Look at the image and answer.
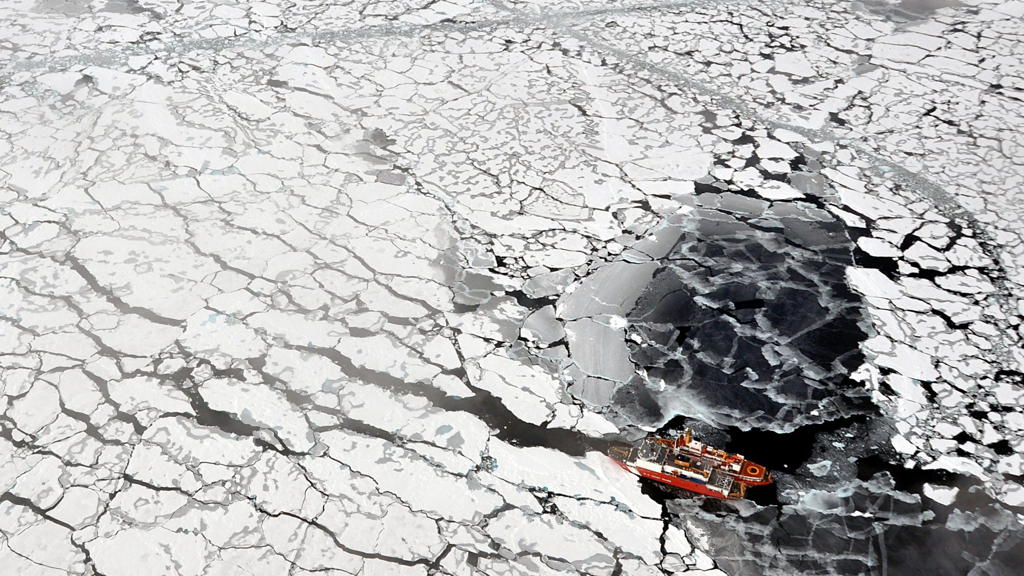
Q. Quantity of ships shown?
2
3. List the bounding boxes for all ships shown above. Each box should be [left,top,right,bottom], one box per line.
[642,427,774,486]
[609,441,747,502]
